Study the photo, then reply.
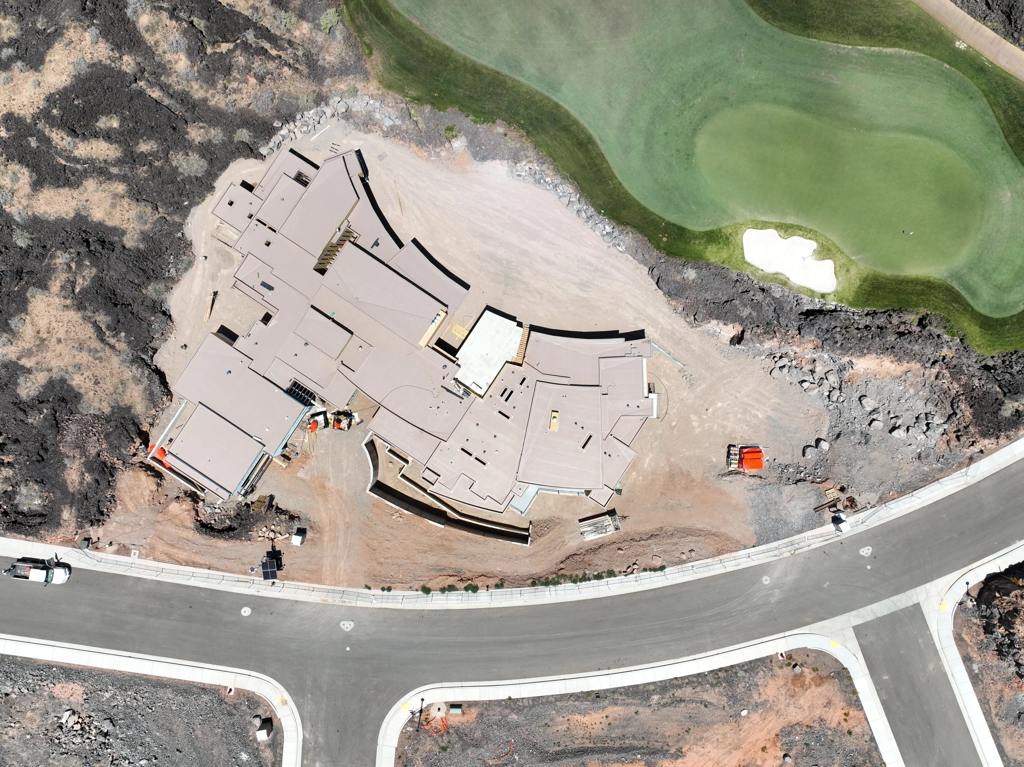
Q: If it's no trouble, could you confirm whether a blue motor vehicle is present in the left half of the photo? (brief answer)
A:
No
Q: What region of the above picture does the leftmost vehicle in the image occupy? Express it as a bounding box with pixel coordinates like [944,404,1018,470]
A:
[1,557,72,591]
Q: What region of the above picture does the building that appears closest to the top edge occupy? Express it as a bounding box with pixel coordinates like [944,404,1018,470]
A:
[166,148,657,513]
